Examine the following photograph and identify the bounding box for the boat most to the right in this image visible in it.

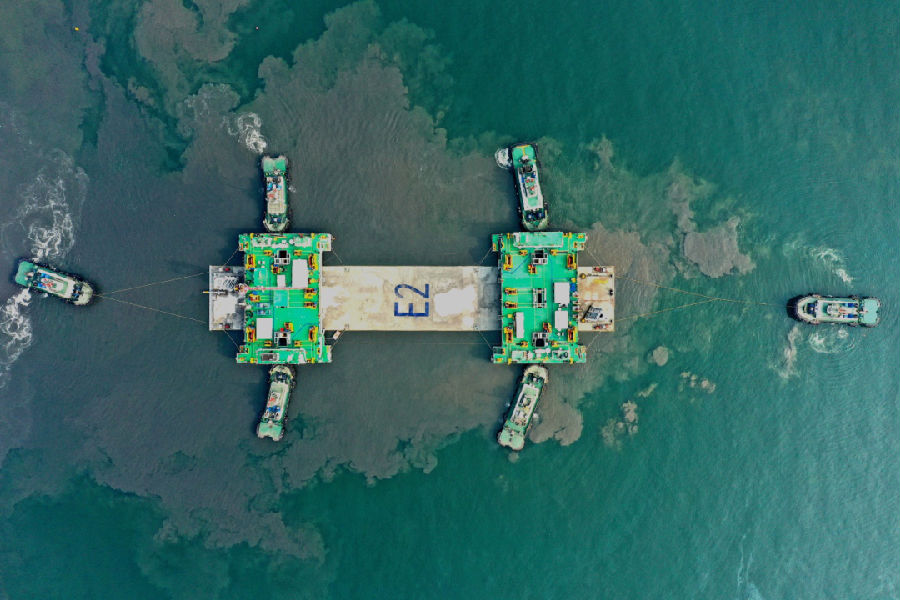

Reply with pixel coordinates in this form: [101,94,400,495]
[791,294,882,325]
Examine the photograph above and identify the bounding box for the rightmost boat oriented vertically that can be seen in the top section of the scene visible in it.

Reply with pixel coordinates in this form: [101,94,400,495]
[510,142,547,233]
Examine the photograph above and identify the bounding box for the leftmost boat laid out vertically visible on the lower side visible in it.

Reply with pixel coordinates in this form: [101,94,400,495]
[257,365,294,442]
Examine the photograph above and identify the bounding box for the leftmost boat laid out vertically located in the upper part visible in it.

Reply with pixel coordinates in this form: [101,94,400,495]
[262,155,290,233]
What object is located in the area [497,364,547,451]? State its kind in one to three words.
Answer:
boat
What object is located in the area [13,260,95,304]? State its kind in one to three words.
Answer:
boat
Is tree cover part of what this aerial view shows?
No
